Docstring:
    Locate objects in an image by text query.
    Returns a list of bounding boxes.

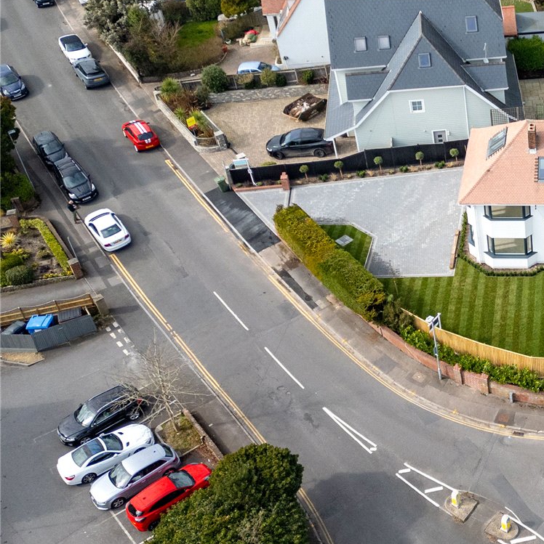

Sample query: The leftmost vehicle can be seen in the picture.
[0,60,31,100]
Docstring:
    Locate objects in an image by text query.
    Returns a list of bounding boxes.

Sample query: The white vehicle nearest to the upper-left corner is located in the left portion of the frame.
[57,33,92,65]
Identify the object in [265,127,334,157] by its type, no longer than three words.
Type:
car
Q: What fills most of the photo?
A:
paved ground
